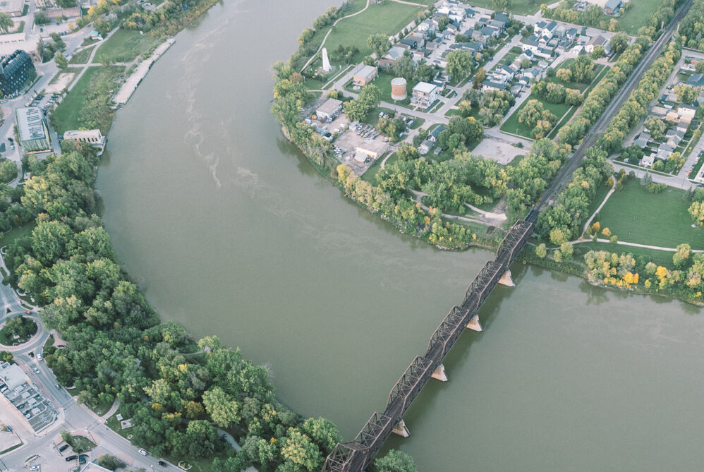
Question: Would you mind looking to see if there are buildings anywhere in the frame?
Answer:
Yes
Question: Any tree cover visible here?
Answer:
Yes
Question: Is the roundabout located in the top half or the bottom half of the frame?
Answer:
bottom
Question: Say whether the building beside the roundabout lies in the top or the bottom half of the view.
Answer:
bottom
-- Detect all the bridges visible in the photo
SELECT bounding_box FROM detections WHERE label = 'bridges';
[322,218,540,472]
